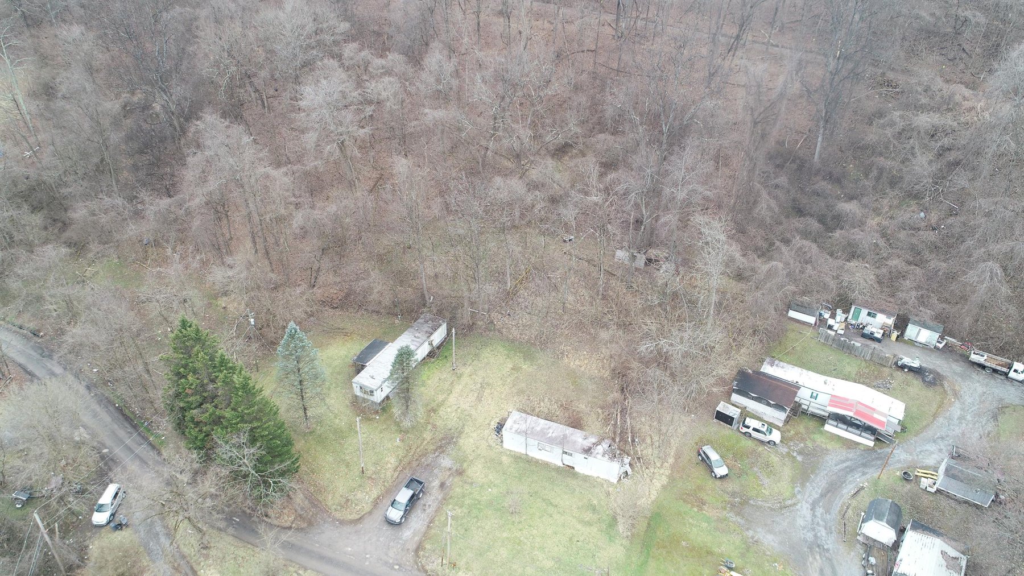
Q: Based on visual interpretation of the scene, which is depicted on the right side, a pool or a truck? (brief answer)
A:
truck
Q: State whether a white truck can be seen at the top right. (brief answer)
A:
No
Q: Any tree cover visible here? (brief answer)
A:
Yes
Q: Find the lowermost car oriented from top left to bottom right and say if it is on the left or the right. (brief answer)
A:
right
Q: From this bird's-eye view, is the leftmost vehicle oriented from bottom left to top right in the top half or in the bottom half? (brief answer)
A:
bottom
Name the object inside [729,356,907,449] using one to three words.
house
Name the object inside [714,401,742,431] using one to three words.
shed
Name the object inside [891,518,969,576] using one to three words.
building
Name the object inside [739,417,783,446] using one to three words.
car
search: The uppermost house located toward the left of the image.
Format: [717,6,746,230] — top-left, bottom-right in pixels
[350,313,448,409]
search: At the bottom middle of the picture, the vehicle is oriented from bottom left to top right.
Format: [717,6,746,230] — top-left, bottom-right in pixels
[384,476,427,526]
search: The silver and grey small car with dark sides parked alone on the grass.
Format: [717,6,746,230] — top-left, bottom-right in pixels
[696,444,730,479]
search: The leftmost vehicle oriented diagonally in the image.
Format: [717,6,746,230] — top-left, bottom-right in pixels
[90,483,128,526]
